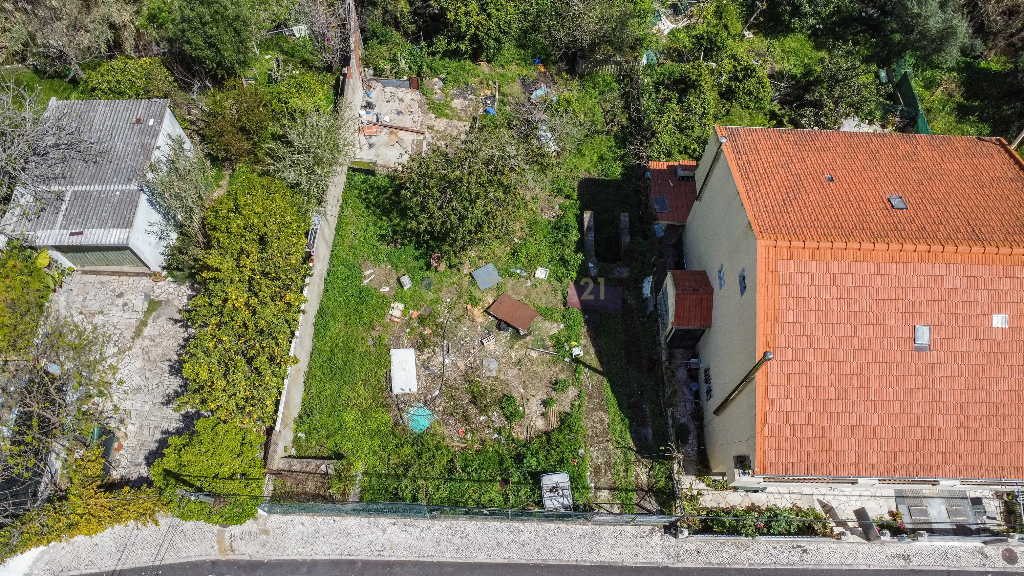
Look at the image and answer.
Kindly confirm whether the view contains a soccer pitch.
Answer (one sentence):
No, there is no soccer pitch in the image.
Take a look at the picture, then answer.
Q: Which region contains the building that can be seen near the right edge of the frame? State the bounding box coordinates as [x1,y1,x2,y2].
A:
[685,125,1024,504]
